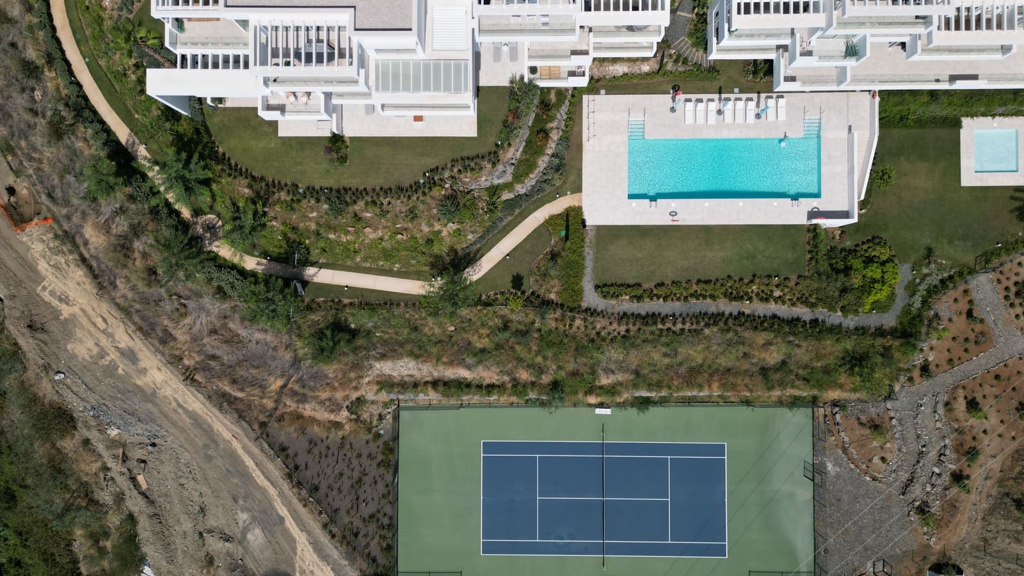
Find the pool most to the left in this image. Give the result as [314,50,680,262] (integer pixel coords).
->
[582,91,855,226]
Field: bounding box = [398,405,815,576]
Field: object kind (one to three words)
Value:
tennis court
